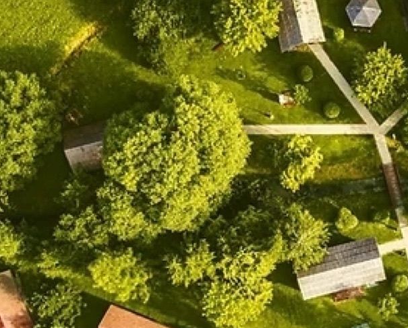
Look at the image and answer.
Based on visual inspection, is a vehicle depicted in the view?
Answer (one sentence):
No, there isn't any vehicle down there.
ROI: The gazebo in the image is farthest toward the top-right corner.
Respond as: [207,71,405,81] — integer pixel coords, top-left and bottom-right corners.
[346,0,382,33]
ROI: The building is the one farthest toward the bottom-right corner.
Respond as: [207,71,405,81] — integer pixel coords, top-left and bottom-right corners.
[294,237,386,300]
